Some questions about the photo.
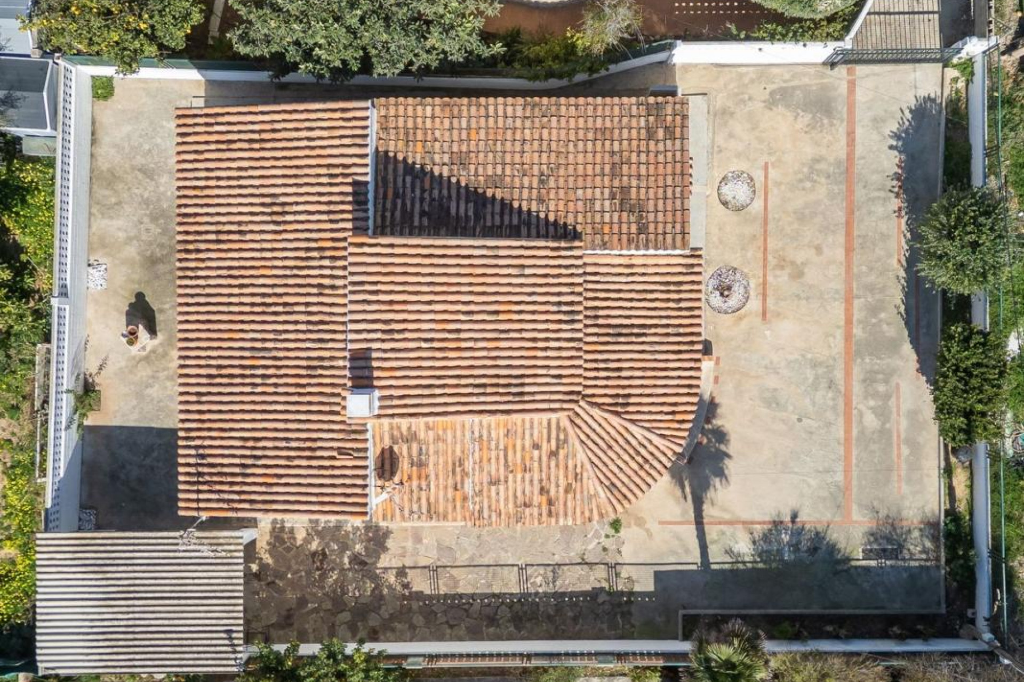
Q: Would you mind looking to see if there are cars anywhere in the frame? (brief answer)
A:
No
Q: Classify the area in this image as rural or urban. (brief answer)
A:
urban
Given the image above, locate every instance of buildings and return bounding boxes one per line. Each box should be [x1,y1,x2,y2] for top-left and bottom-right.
[0,55,59,141]
[35,531,245,674]
[172,87,706,528]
